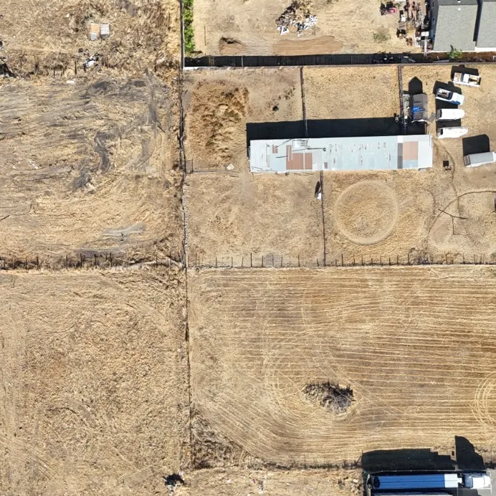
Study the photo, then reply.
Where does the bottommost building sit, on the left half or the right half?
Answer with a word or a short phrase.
right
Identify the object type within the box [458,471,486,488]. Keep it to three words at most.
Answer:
vehicle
